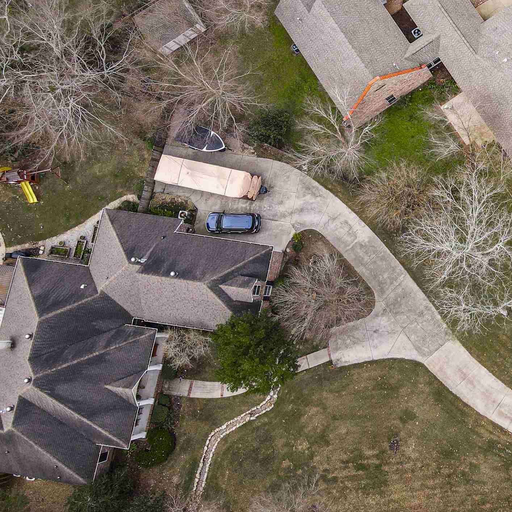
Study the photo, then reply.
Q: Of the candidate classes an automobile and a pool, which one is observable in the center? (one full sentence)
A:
Looking in the center, you will find an automobile.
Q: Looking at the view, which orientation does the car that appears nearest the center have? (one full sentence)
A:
In this picture, the car that appears nearest the center is oriented from left to right.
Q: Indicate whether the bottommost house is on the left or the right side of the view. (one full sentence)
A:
You can find the bottommost house on the left side of the picture.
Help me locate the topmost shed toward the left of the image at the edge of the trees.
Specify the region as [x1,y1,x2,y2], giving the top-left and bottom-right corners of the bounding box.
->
[122,0,206,54]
